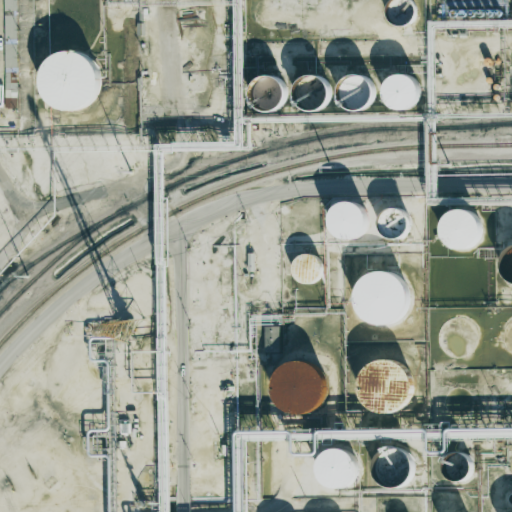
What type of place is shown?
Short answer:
industrial area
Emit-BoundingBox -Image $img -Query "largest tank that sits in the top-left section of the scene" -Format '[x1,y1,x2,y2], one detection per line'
[37,48,104,114]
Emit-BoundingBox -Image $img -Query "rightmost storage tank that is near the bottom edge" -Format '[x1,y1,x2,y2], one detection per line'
[439,450,477,486]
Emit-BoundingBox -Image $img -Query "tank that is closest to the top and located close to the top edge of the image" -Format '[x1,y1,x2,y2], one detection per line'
[384,0,420,30]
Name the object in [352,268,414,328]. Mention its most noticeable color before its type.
white storage tank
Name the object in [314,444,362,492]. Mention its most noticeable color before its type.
white storage tank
